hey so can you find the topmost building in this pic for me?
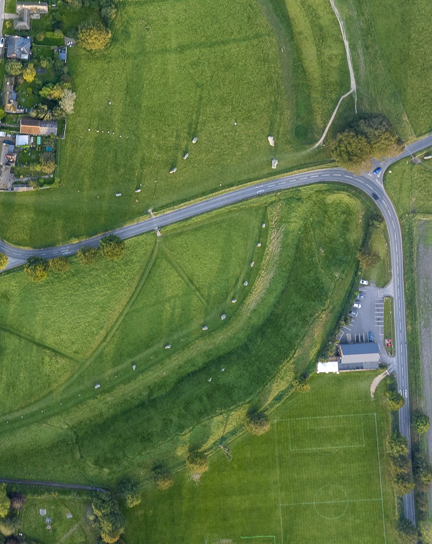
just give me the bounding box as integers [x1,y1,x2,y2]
[16,3,48,30]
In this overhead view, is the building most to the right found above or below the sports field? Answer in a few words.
above it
